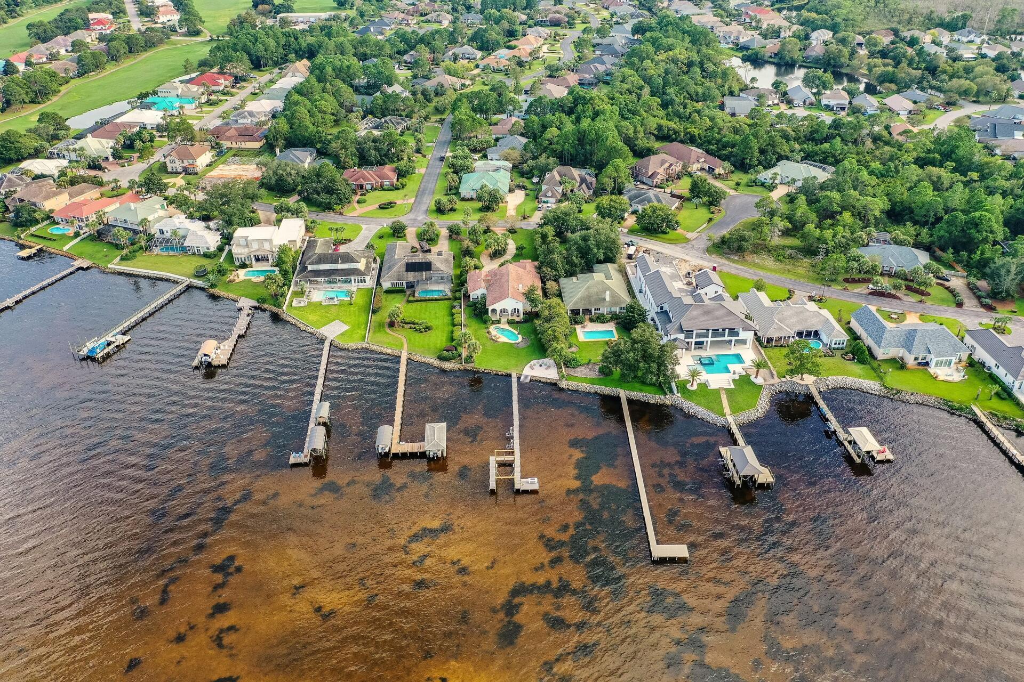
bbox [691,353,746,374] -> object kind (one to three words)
swimming pool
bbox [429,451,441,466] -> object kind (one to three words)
boat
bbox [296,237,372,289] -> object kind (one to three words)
house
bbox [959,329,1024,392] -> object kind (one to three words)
house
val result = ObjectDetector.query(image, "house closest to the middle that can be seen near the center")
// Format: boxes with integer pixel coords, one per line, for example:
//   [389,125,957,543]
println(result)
[460,259,542,320]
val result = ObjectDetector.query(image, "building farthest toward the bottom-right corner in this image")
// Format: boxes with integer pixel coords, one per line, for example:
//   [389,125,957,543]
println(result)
[843,426,881,472]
